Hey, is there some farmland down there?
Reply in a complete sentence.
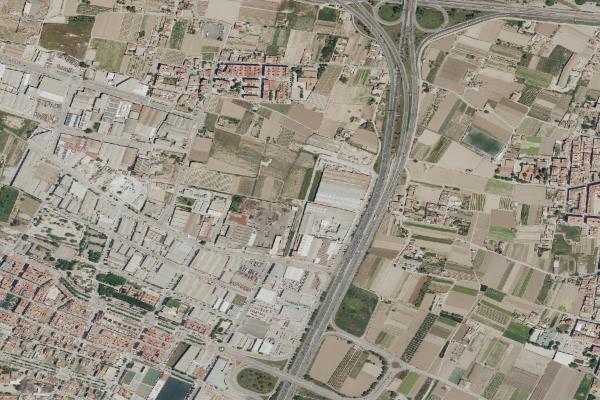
Yes, farmland shows up in the scene.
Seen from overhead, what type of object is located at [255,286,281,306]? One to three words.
building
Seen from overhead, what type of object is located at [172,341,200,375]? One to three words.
building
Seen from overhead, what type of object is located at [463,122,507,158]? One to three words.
soccer field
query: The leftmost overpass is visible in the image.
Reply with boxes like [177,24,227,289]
[244,354,346,400]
